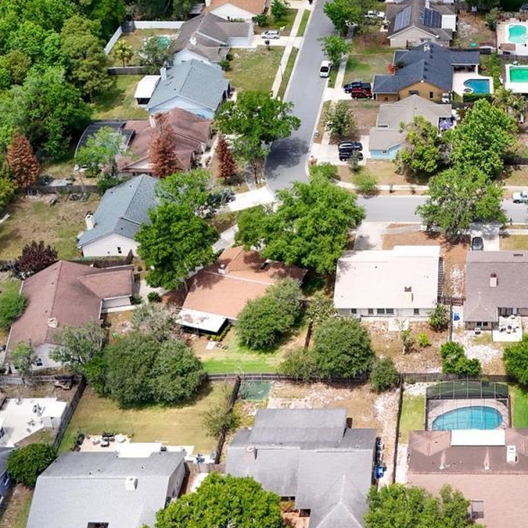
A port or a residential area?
residential area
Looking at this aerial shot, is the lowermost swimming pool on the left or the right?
right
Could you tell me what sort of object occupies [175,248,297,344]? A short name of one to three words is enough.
house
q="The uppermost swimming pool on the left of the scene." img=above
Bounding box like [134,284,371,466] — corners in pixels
[139,33,175,61]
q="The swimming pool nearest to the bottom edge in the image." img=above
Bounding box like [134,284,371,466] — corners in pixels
[427,399,510,433]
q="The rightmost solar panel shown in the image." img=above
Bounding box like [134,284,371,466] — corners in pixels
[422,8,440,26]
